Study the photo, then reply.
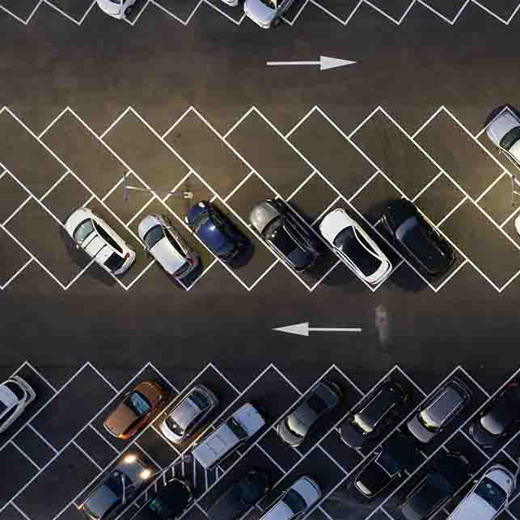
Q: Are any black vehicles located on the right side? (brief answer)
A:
Yes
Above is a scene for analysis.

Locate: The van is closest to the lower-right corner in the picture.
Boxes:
[444,465,519,520]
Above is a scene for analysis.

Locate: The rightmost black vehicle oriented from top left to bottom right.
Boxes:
[378,196,457,283]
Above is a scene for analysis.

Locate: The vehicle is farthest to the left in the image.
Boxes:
[0,374,42,437]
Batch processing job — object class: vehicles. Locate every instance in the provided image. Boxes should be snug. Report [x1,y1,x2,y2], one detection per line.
[277,377,347,450]
[469,377,520,450]
[74,456,150,520]
[378,196,457,283]
[250,200,328,278]
[99,0,142,21]
[246,0,296,30]
[67,208,140,277]
[444,465,519,520]
[100,378,170,445]
[408,374,476,445]
[187,401,267,472]
[338,376,413,451]
[488,113,520,174]
[350,431,422,505]
[396,451,471,520]
[187,202,252,268]
[321,208,395,287]
[256,474,325,520]
[121,476,195,520]
[203,465,274,520]
[137,213,202,282]
[0,374,42,437]
[158,382,225,447]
